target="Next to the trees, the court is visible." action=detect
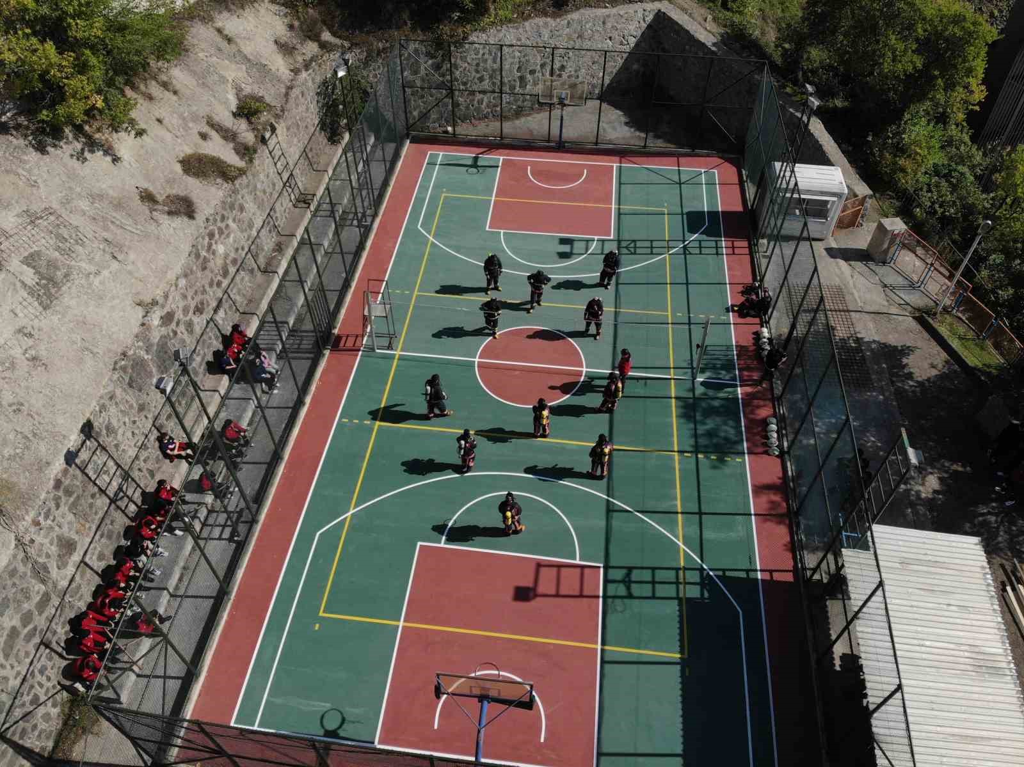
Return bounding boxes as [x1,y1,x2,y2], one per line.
[171,136,832,767]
